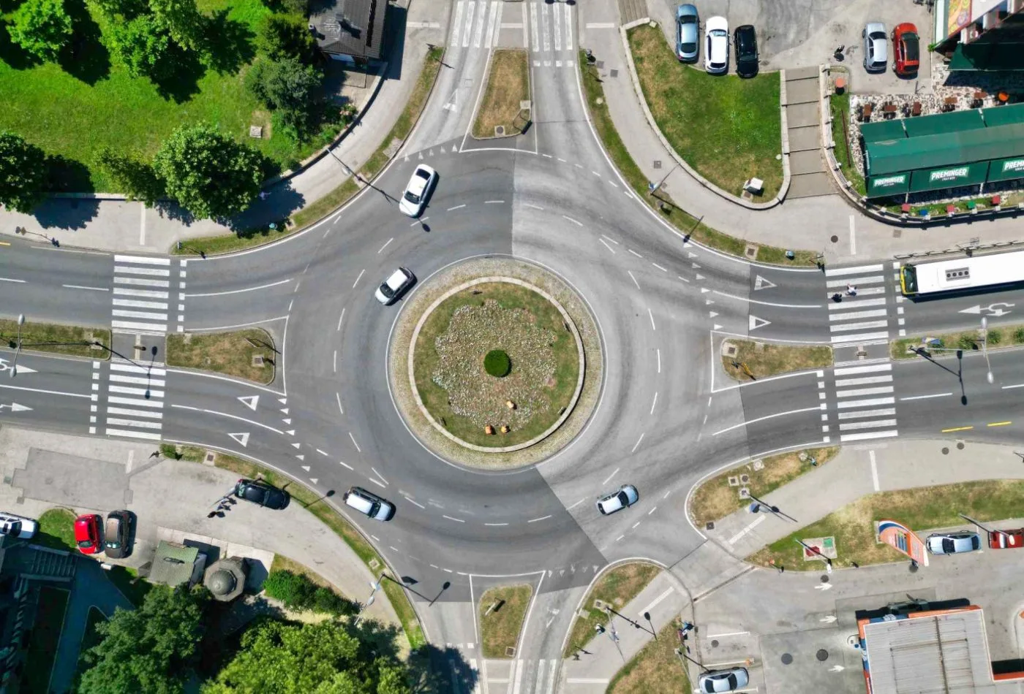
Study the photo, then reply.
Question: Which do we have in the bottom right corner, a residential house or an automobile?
automobile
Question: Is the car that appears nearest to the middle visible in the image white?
Yes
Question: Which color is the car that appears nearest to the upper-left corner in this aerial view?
white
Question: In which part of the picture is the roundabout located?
center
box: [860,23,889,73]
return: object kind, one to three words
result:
car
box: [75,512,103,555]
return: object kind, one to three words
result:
car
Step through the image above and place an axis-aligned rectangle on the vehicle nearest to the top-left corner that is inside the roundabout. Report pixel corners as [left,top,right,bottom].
[400,162,436,218]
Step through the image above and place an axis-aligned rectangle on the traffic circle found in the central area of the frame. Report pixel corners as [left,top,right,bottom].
[167,36,750,602]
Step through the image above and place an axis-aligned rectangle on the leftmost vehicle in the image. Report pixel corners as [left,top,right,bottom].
[0,511,41,541]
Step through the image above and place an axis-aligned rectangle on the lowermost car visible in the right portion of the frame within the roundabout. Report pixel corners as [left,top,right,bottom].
[595,484,640,516]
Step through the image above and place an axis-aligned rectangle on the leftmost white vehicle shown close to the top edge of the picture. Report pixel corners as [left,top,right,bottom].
[703,17,732,75]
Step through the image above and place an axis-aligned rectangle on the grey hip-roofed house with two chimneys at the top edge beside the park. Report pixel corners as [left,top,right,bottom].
[307,0,390,66]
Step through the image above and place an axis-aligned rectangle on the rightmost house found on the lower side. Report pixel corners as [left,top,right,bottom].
[205,547,259,600]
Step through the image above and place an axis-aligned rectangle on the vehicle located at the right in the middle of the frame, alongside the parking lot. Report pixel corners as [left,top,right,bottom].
[901,251,1024,297]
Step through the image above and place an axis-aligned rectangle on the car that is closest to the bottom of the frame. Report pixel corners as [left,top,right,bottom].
[696,664,749,694]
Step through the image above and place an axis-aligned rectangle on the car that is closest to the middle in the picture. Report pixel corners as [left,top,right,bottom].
[374,266,417,305]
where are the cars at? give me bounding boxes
[103,509,133,558]
[400,162,436,218]
[881,593,934,617]
[703,17,732,75]
[595,484,640,516]
[234,477,292,512]
[0,511,41,541]
[860,23,889,73]
[343,486,396,522]
[923,530,980,557]
[890,24,921,76]
[75,512,103,555]
[374,266,417,305]
[733,24,762,79]
[696,664,749,694]
[674,5,701,62]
